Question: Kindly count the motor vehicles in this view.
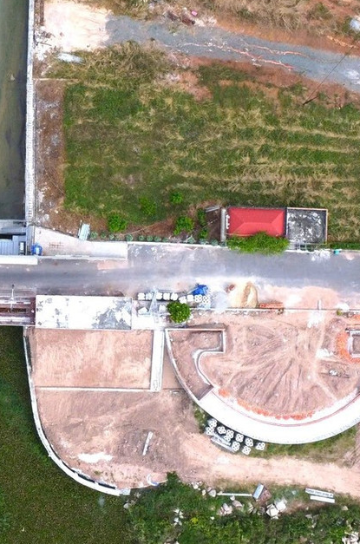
0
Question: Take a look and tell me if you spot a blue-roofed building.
No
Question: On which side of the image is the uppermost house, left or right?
right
